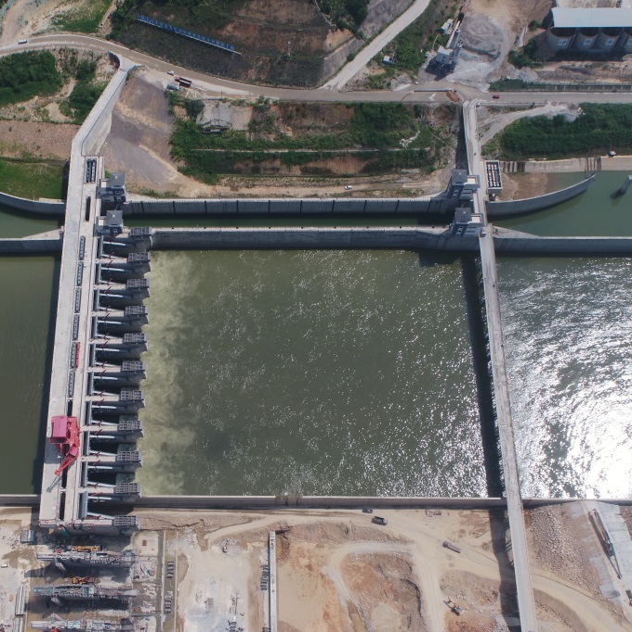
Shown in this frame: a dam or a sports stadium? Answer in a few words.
dam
